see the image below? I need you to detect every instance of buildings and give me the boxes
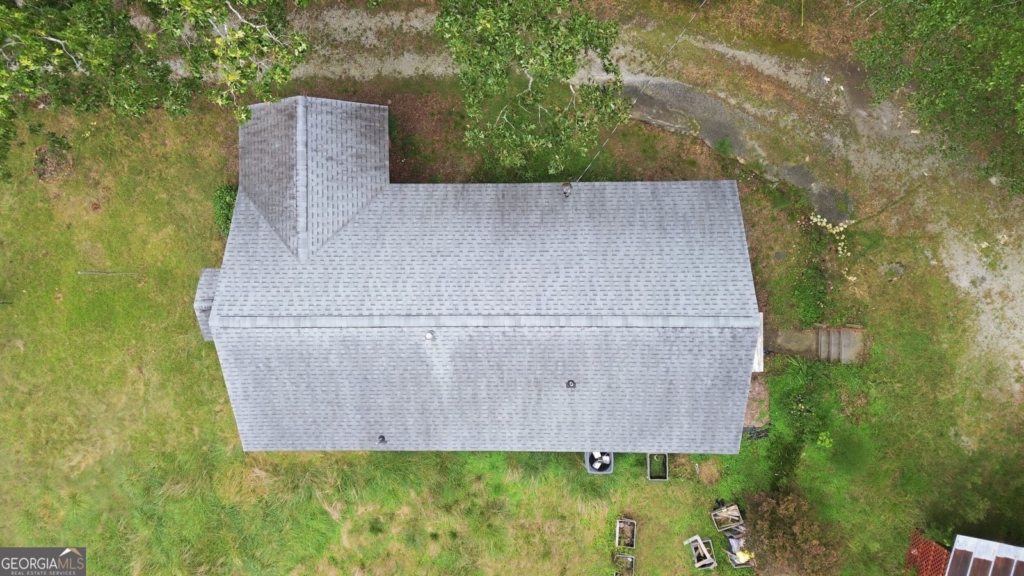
[943,532,1024,576]
[194,94,764,455]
